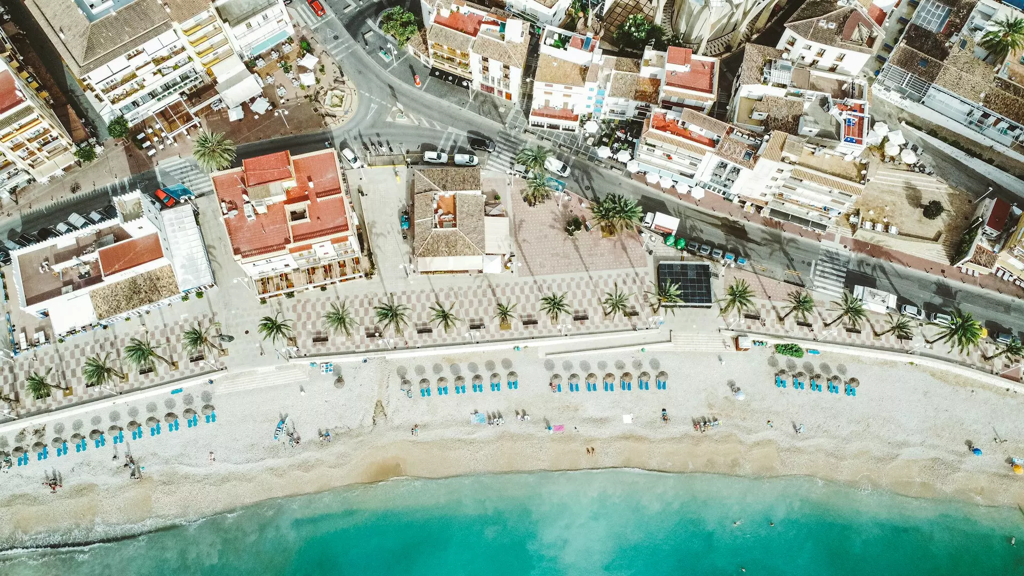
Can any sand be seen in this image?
Yes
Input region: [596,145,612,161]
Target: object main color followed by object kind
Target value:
white umbrella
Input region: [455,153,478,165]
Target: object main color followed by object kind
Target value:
white vehicle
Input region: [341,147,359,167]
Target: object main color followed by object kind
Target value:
white car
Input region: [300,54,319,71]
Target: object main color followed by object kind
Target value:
white umbrella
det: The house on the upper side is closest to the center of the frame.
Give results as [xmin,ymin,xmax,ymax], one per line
[414,167,486,260]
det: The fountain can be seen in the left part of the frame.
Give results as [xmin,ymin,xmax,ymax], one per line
[324,89,347,111]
